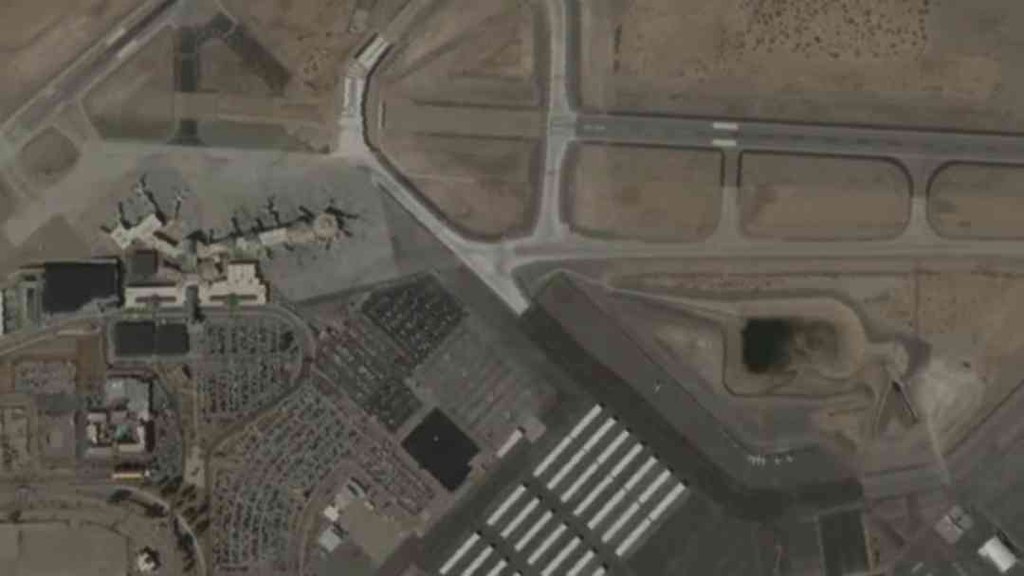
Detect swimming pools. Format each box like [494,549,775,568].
[114,424,131,439]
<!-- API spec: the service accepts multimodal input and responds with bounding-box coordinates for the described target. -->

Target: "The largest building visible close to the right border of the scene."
[979,537,1017,573]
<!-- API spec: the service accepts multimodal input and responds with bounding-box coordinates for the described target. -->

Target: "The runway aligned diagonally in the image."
[0,0,189,162]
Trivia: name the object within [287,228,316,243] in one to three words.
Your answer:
building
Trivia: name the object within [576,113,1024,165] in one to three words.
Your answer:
runway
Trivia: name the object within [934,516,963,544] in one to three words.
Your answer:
hangar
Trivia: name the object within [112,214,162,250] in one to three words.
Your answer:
building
